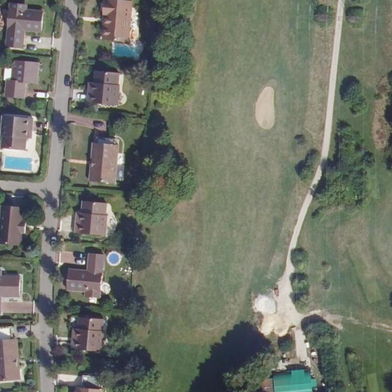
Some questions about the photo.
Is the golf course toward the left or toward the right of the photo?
right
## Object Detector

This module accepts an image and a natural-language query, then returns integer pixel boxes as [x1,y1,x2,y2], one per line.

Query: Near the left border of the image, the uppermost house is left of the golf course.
[6,2,44,50]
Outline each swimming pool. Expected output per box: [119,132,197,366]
[113,43,142,60]
[107,252,124,266]
[4,156,33,172]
